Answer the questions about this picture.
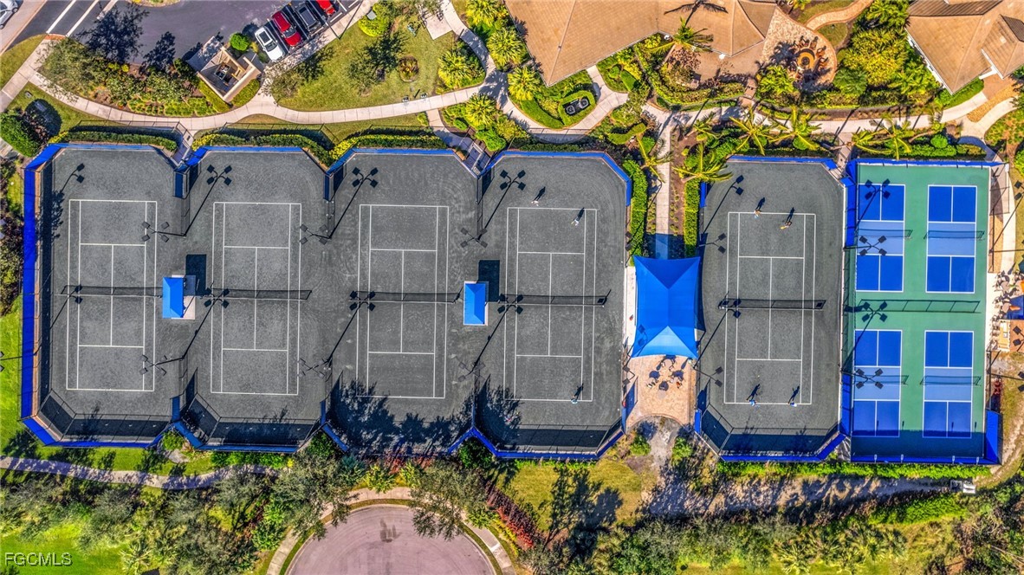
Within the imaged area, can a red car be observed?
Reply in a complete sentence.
Yes, this view includes a red car.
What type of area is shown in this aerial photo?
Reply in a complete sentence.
This image shows a sports ground.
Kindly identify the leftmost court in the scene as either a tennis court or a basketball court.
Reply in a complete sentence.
It turns out the leftmost court is a tennis court.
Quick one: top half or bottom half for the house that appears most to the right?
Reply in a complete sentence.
It is in the top half that the house that appears most to the right appears.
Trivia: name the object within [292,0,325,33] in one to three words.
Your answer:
car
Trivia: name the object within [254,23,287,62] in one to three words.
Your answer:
car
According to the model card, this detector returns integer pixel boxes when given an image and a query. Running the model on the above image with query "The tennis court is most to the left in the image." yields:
[36,150,184,441]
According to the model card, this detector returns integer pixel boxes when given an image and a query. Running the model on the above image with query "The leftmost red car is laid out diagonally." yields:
[271,7,303,47]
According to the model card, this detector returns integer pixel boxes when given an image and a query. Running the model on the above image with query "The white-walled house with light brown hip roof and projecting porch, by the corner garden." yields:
[903,0,1024,94]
